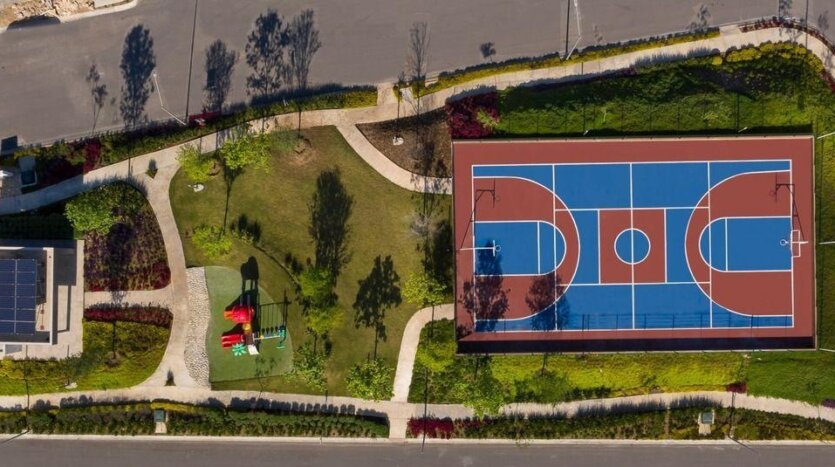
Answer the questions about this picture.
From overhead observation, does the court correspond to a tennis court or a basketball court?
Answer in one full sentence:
I'd say the court is a basketball court.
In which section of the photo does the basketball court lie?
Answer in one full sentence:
Look in the right portion of the view to spot the basketball court.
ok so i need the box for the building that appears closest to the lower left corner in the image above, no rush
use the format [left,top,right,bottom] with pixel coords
[0,247,70,344]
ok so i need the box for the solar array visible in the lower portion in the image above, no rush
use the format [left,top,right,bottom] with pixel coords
[0,258,40,336]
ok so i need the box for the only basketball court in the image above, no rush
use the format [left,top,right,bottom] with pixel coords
[453,137,815,353]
